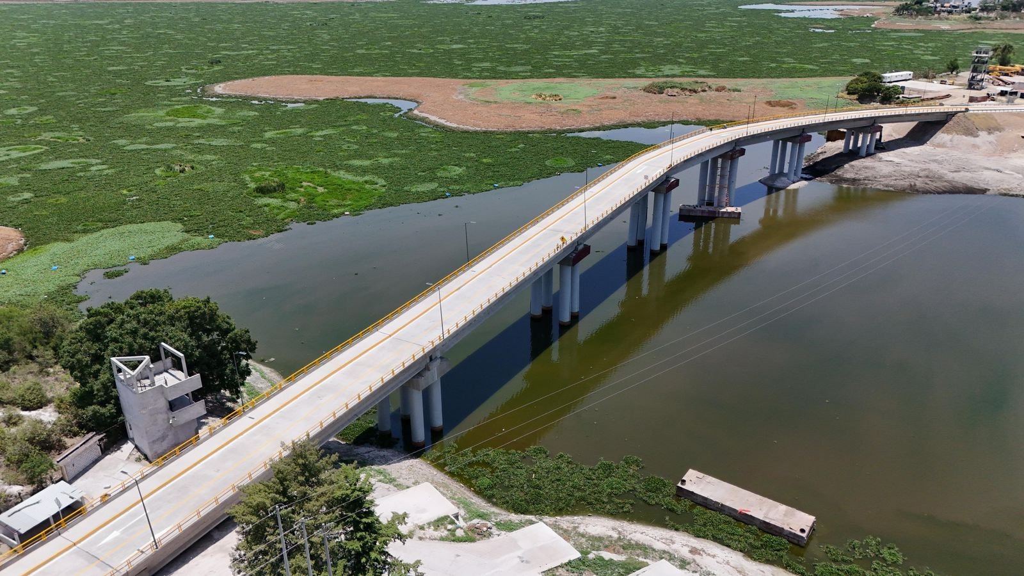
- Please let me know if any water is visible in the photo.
Yes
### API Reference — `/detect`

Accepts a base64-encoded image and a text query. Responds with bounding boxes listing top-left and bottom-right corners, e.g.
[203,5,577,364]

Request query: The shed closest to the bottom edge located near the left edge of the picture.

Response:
[0,481,87,548]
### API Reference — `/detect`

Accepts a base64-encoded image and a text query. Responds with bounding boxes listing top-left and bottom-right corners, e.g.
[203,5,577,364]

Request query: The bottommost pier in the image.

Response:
[675,470,815,551]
